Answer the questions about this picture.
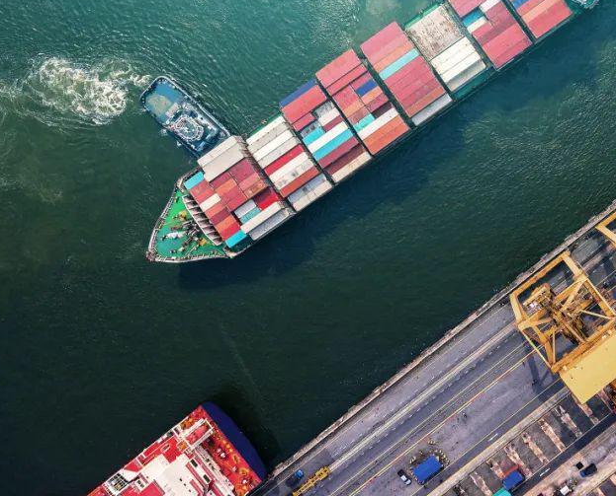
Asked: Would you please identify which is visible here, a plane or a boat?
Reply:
boat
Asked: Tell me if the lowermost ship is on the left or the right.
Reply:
left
